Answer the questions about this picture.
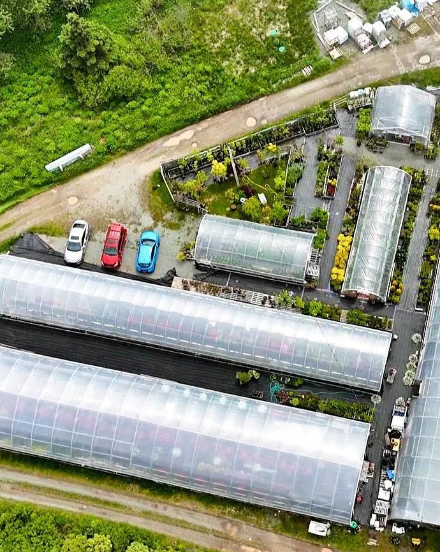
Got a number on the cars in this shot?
3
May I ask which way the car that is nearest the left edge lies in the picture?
vertically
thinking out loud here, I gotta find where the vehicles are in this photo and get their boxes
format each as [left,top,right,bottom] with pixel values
[61,215,88,265]
[99,220,126,270]
[135,227,160,274]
